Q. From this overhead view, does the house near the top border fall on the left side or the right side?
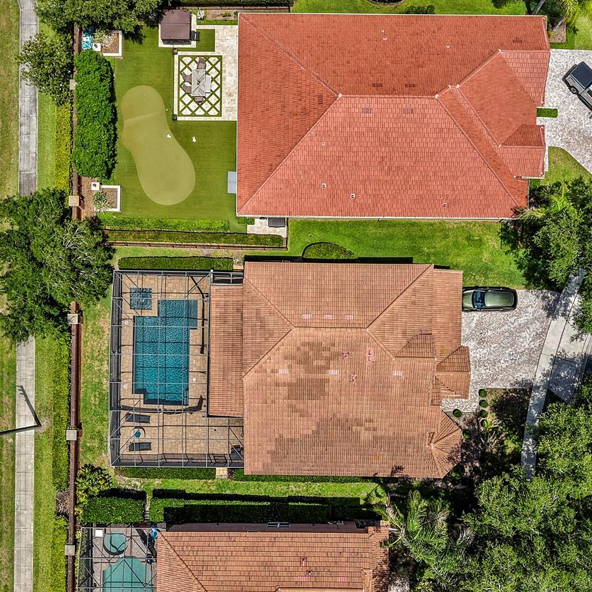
right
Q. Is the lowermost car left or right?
right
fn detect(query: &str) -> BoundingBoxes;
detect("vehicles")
[462,284,520,314]
[567,62,592,107]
